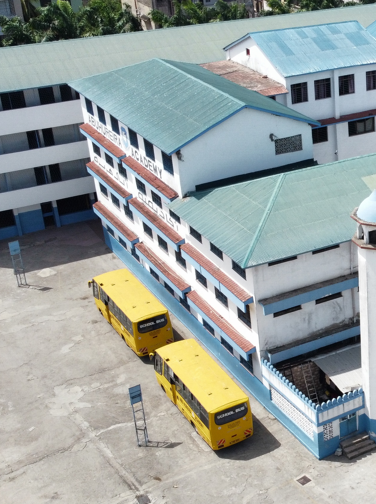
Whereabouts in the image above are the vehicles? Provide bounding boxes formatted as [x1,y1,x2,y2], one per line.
[151,347,251,448]
[92,275,171,353]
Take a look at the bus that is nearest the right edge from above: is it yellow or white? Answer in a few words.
yellow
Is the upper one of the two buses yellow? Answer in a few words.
Yes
